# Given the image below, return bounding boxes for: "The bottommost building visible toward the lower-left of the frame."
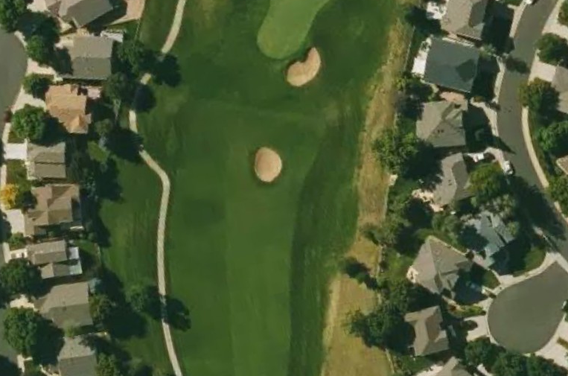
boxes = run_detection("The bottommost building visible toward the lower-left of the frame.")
[57,335,97,376]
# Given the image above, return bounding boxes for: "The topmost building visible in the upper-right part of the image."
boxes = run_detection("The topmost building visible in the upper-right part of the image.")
[440,0,488,38]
